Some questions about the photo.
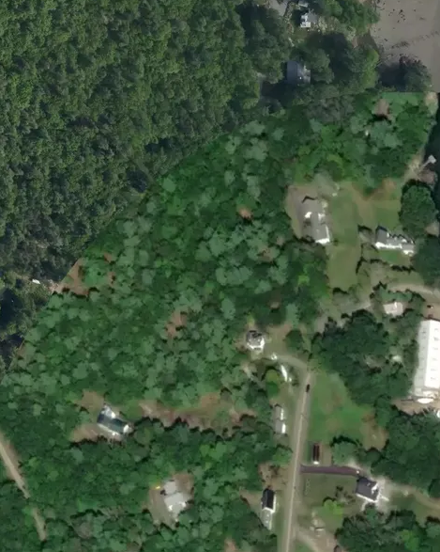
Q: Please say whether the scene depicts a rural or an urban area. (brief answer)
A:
rural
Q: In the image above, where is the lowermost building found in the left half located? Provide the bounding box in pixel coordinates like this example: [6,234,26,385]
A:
[163,480,187,513]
